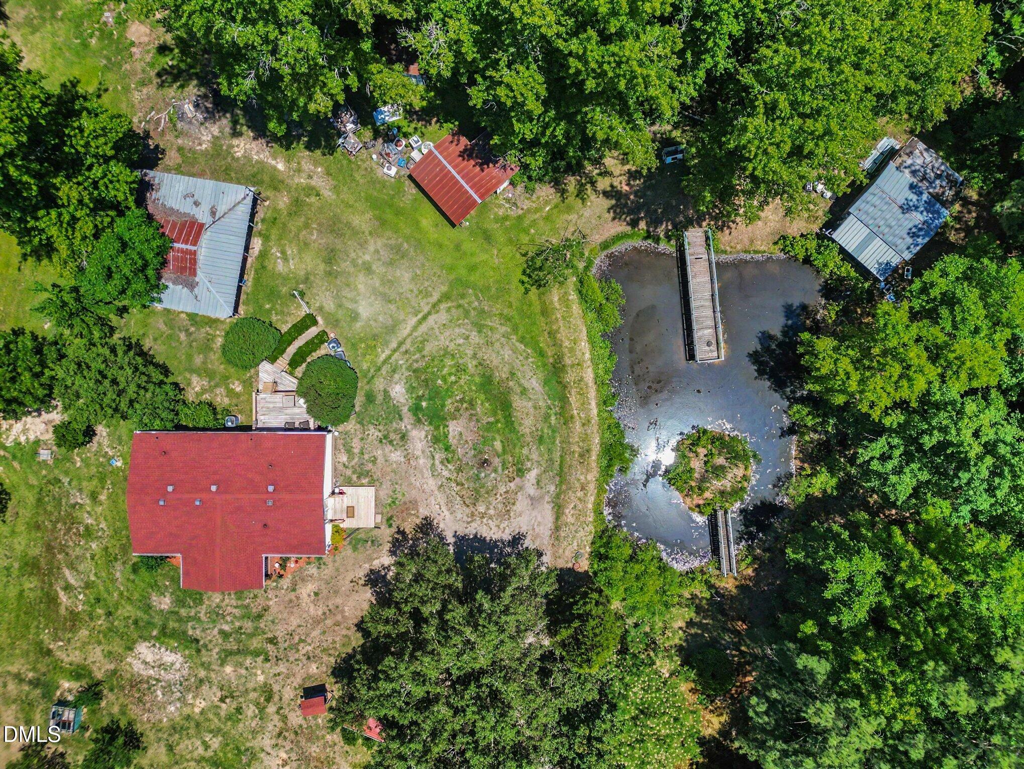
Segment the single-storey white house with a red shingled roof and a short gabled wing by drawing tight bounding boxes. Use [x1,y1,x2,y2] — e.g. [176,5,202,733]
[126,431,334,592]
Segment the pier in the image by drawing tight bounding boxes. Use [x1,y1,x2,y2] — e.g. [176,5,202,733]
[680,229,724,363]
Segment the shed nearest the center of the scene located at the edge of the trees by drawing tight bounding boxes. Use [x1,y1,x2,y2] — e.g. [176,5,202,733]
[409,129,519,229]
